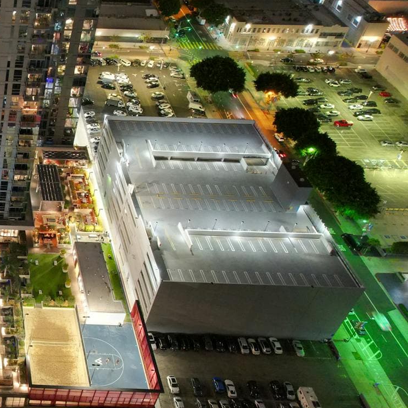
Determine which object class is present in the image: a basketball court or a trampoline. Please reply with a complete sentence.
It is a basketball court that can be seen here.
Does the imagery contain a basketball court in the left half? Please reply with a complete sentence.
Yes, a basketball court appears in the left half.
